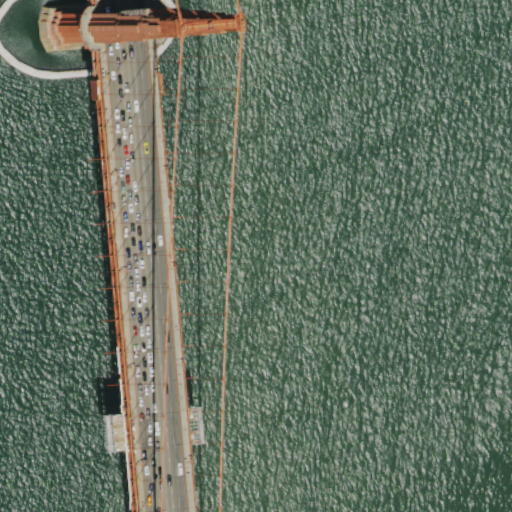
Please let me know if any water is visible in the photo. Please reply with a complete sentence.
Yes, some water is visible.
